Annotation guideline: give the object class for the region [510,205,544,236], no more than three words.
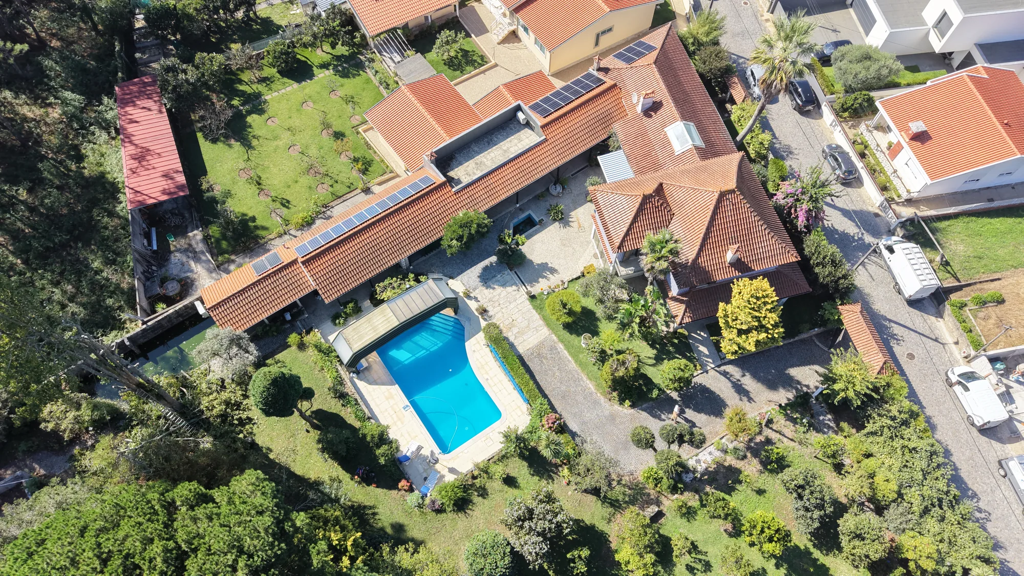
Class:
swimming pool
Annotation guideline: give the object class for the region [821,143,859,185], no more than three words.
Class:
car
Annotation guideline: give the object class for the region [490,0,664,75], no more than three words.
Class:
house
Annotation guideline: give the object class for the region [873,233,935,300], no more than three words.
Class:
van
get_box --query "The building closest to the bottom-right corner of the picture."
[838,303,902,382]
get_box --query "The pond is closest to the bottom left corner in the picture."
[100,308,222,410]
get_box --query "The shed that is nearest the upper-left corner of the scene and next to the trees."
[113,76,205,225]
